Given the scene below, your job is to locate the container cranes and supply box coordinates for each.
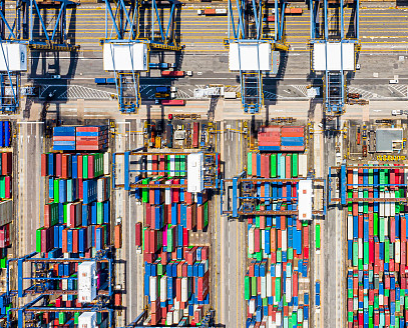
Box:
[223,0,291,115]
[100,0,185,115]
[221,168,327,219]
[114,143,220,191]
[7,243,116,299]
[114,307,220,328]
[0,0,84,116]
[7,289,116,328]
[306,0,363,115]
[328,156,408,205]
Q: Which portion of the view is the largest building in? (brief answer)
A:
right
